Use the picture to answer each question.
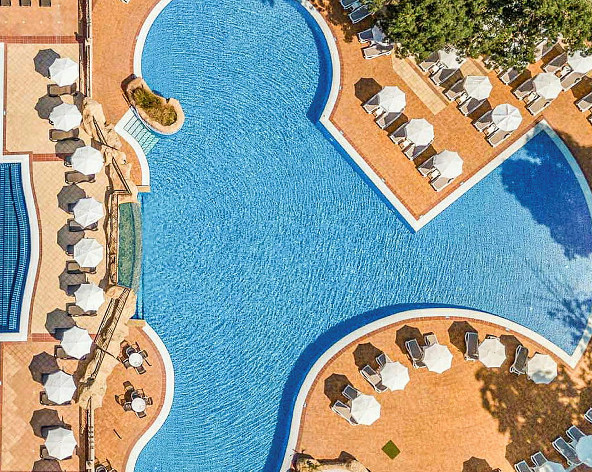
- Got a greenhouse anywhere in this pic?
No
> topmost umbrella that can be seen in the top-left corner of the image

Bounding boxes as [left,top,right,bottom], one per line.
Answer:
[50,56,81,88]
